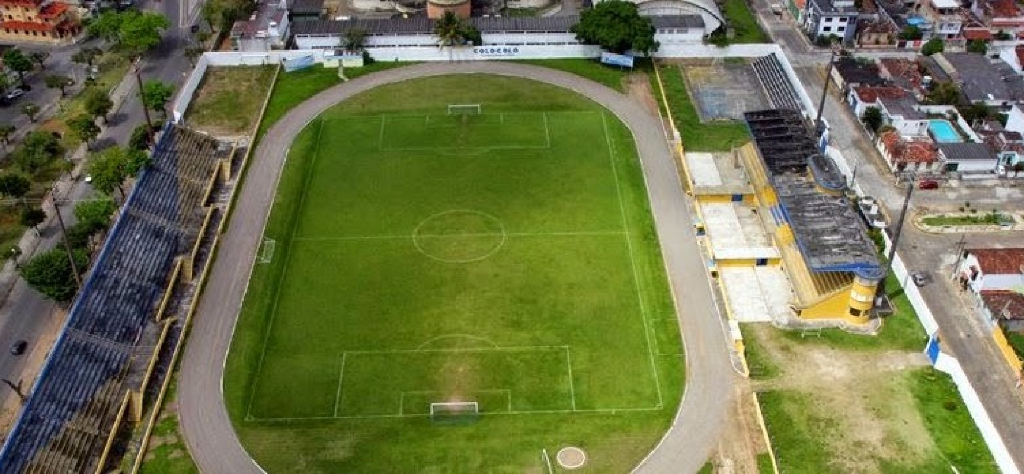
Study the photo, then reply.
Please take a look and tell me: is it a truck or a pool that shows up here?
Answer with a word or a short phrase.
pool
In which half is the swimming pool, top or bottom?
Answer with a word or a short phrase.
top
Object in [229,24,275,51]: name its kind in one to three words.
building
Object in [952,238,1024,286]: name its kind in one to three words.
house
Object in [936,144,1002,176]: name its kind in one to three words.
house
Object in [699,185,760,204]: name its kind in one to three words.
building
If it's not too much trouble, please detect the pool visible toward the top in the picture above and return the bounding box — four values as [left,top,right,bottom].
[931,117,970,143]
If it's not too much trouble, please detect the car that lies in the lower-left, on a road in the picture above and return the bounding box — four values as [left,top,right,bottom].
[8,339,28,357]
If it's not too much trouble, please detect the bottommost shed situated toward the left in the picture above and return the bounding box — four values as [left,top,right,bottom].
[323,49,362,67]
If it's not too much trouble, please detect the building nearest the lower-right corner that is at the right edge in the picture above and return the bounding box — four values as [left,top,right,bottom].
[985,289,1024,329]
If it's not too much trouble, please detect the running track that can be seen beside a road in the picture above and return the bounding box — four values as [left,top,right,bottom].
[182,62,736,474]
